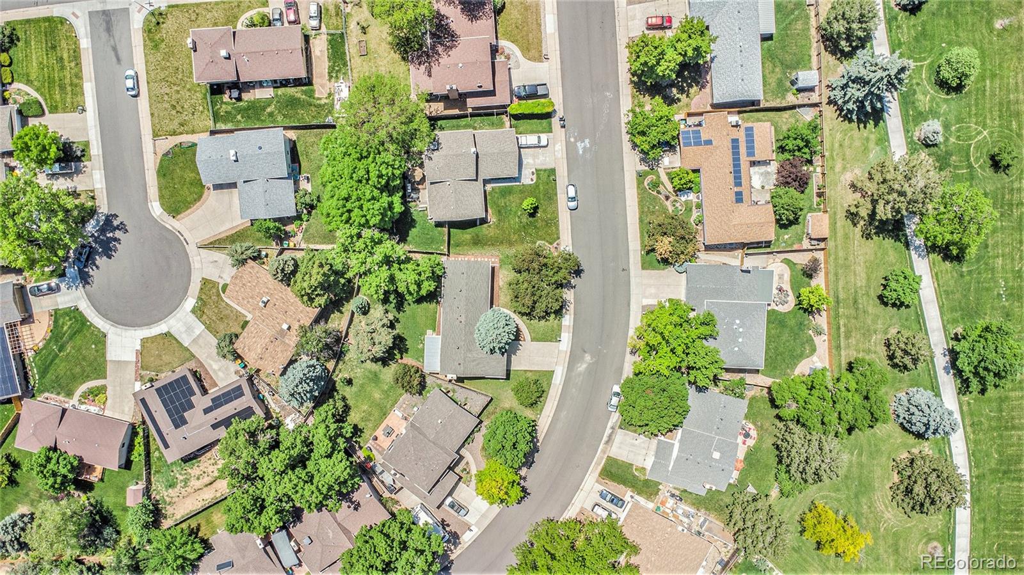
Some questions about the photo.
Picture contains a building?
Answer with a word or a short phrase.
Yes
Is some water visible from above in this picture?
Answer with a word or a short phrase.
No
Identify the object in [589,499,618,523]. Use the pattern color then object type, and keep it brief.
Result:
white car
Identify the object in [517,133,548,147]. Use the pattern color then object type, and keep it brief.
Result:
white car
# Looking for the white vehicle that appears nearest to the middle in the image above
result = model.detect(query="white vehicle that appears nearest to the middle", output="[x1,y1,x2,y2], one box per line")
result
[566,183,578,211]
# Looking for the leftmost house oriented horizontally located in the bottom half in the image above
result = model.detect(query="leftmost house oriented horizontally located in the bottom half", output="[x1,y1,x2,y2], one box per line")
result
[14,398,135,470]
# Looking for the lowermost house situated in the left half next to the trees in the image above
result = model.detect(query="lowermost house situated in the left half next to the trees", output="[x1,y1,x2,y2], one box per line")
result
[204,528,287,575]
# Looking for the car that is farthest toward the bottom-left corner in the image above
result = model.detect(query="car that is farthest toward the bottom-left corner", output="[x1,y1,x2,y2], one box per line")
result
[30,281,60,296]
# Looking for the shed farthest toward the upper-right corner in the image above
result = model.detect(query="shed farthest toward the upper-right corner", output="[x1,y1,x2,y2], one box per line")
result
[787,71,818,90]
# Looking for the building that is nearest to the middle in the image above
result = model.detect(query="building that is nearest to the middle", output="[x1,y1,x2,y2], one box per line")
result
[423,260,506,382]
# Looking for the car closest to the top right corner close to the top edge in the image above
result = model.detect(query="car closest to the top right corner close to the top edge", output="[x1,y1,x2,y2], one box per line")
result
[645,15,673,30]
